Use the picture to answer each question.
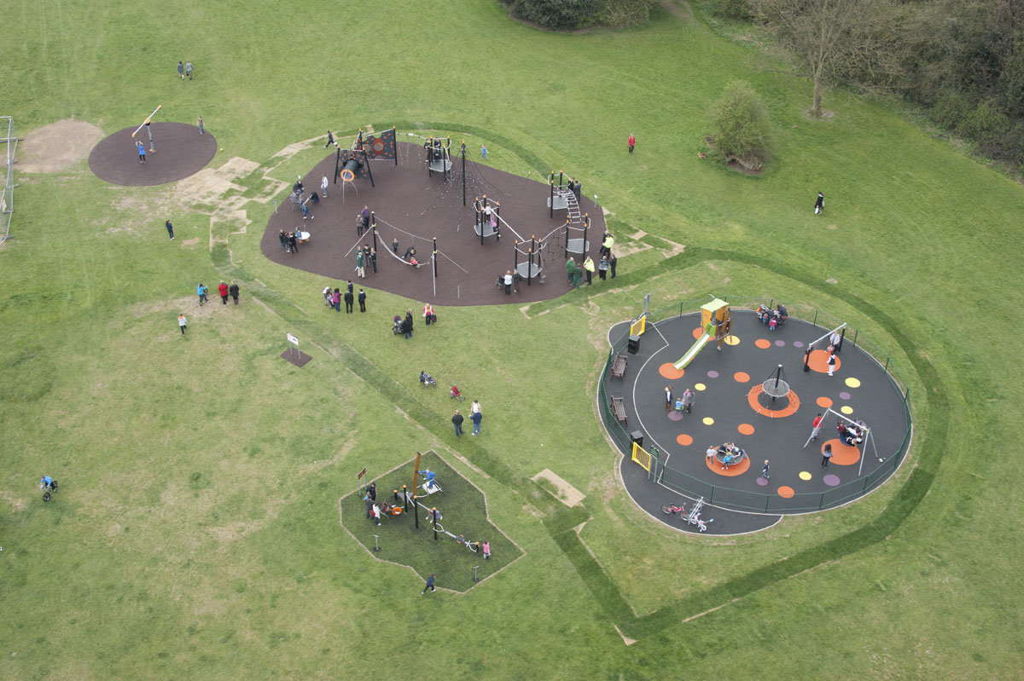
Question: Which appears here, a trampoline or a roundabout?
roundabout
